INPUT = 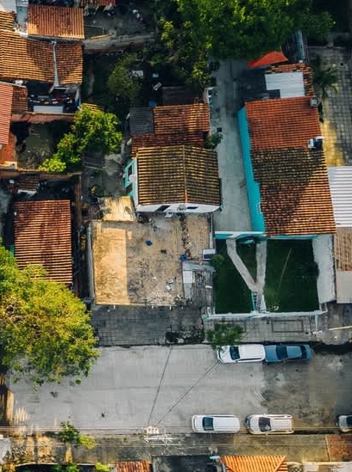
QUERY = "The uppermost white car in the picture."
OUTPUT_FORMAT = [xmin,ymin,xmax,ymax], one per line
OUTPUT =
[214,344,265,364]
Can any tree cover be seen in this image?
Yes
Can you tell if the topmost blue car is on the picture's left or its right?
right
